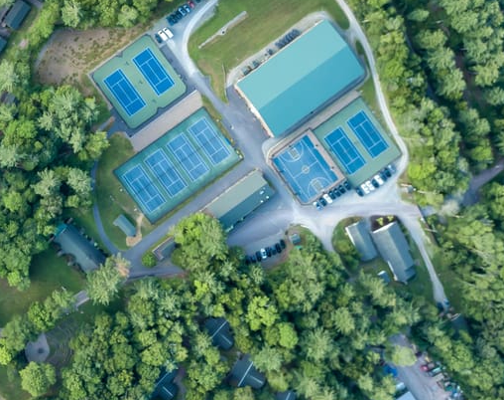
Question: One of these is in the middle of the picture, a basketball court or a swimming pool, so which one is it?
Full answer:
What appears in the middle of the picture is a basketball court.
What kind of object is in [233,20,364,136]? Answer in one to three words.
building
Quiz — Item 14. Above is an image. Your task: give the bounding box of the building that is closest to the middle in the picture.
[205,169,275,231]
